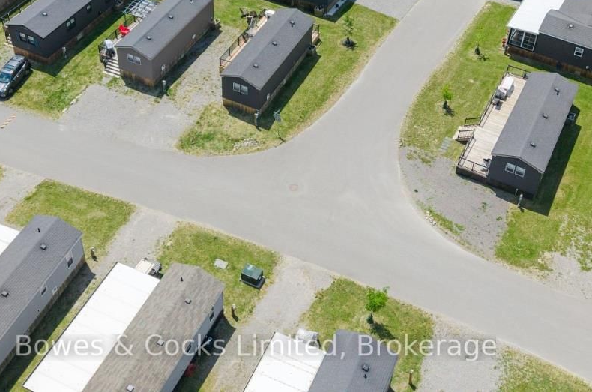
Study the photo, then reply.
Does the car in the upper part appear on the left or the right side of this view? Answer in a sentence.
The car in the upper part appears in the left half of the scene.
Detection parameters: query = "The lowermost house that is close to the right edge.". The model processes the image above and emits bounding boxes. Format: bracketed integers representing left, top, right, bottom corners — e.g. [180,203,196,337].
[488,73,578,199]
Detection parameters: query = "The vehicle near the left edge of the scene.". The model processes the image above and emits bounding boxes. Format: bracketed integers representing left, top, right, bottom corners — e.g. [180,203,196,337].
[0,57,30,98]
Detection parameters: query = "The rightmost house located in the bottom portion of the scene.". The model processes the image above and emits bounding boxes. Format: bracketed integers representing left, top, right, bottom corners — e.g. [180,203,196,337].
[310,330,398,392]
